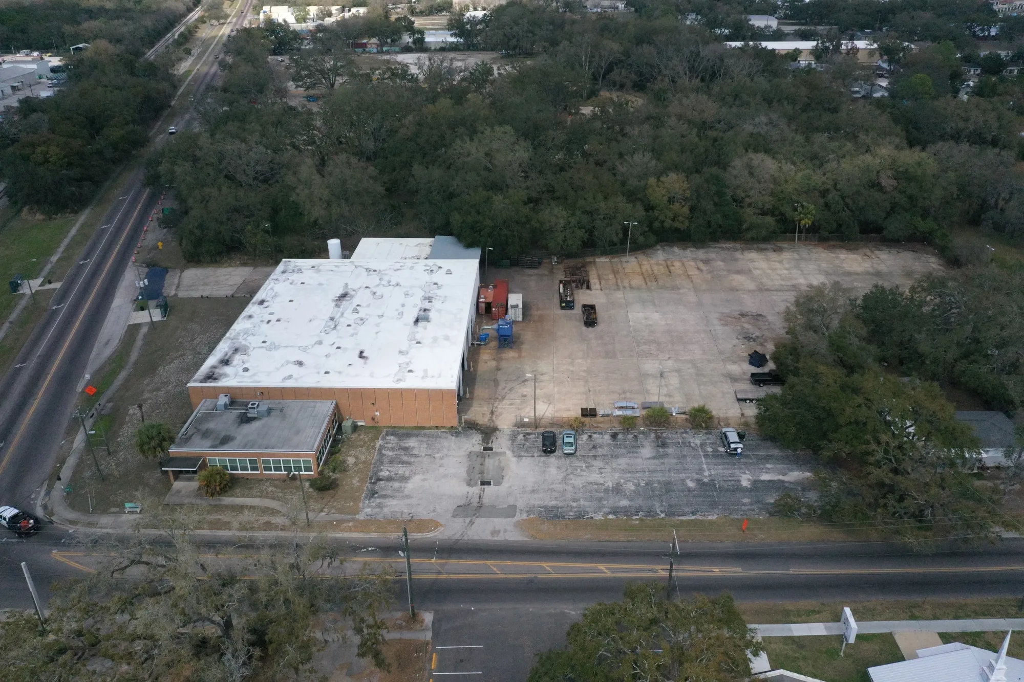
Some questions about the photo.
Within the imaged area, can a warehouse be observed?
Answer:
Yes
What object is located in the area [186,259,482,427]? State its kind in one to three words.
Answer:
warehouse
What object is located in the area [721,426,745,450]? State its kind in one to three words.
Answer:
car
